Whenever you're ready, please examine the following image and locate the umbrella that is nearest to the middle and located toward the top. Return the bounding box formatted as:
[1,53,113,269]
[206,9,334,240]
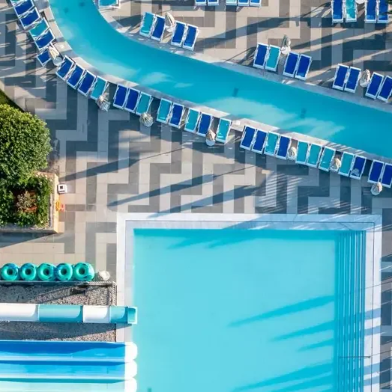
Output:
[202,130,215,149]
